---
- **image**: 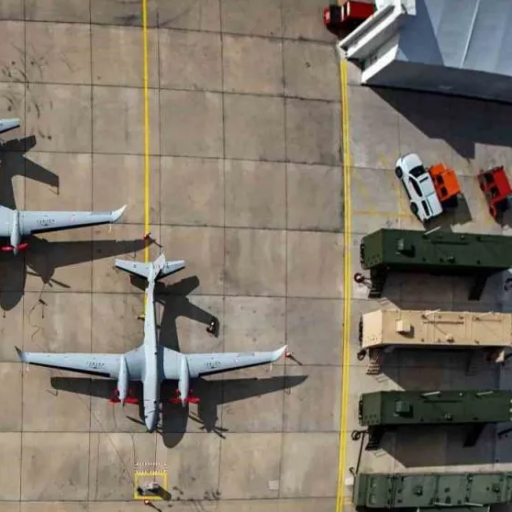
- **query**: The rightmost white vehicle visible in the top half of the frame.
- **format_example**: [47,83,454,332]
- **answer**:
[396,153,447,220]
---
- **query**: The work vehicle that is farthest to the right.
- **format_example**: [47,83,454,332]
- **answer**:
[473,169,512,224]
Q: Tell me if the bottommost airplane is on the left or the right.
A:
left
